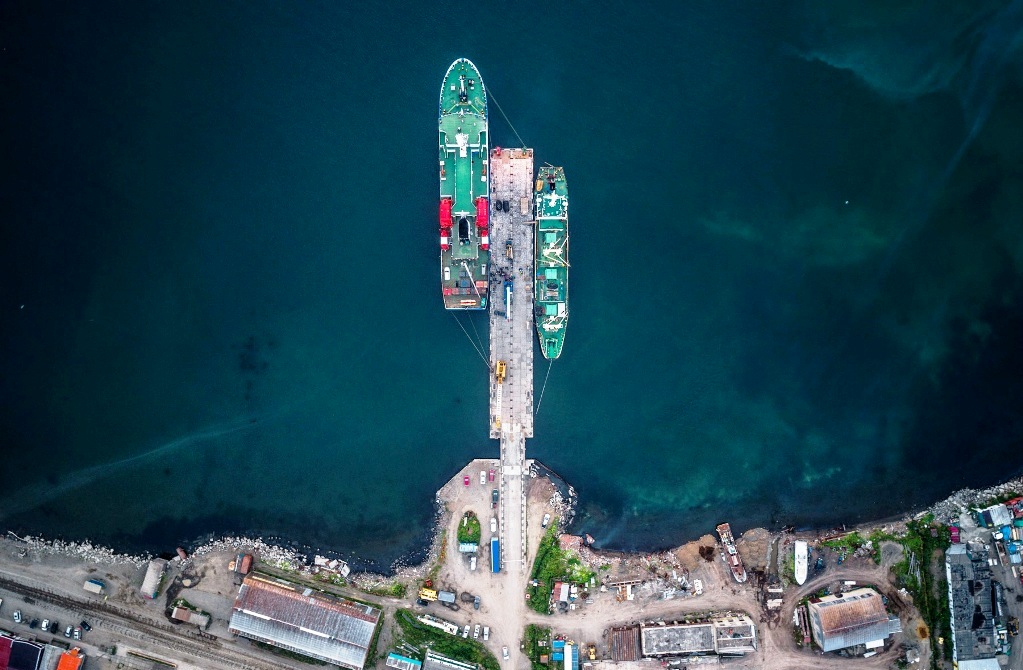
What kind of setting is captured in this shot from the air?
port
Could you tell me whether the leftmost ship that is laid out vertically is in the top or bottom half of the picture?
top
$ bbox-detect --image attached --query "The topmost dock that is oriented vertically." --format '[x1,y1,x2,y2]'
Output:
[489,149,533,438]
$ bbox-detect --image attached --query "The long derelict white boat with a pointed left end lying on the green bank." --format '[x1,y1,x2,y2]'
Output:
[418,616,457,634]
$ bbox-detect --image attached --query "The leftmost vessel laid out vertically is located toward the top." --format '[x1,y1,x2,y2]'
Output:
[439,58,490,310]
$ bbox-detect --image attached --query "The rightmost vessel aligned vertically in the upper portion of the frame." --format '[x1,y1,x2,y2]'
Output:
[535,162,570,358]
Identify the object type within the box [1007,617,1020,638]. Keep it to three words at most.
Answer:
vehicle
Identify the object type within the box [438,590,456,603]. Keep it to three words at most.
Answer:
vehicle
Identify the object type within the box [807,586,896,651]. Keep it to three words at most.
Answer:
building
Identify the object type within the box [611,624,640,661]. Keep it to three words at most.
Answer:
shed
